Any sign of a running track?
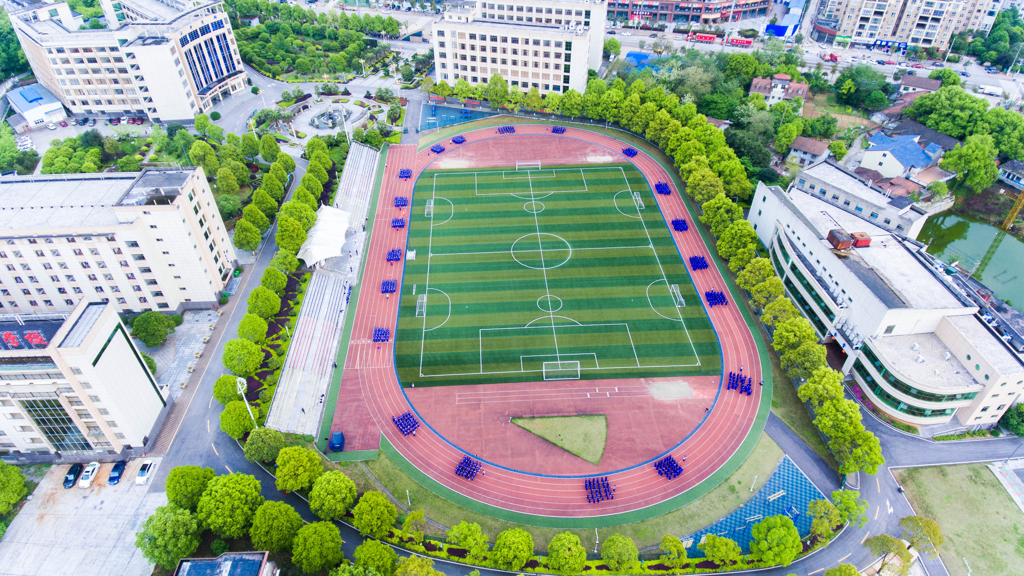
Yes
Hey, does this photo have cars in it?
Yes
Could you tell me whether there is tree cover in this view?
Yes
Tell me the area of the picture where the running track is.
center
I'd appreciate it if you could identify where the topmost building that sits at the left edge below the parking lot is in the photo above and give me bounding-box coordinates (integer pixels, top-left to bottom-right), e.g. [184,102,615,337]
[0,166,244,322]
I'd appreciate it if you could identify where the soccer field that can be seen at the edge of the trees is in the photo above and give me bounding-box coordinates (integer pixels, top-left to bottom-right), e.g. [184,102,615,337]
[398,163,719,389]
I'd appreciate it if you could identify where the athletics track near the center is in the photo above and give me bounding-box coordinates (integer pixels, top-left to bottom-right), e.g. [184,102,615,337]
[319,122,772,530]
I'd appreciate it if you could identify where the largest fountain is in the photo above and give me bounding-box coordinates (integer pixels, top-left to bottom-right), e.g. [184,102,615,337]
[308,106,354,129]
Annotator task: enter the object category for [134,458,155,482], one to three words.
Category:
car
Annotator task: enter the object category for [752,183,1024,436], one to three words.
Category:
building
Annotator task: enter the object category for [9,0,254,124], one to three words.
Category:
building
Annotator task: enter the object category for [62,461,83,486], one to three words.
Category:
car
